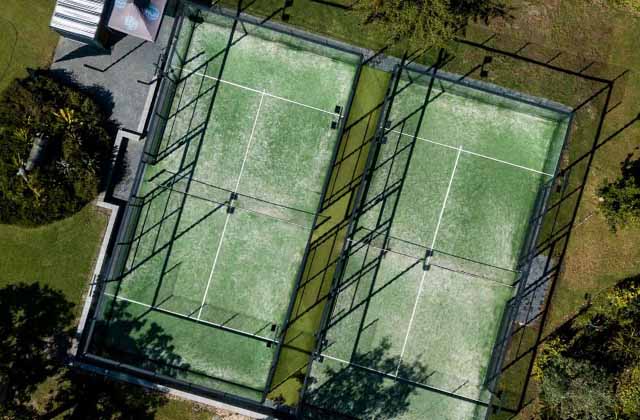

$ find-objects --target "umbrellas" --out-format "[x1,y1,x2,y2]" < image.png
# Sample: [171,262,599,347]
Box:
[108,0,168,41]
